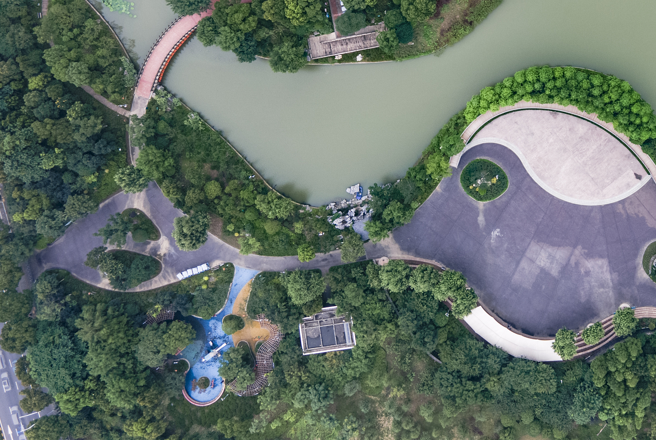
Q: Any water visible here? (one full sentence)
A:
Yes, there is water in the image.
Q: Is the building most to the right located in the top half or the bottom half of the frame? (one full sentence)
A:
The building most to the right sits in the bottom half of the picture.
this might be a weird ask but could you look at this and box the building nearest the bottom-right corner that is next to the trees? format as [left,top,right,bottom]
[299,305,358,358]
